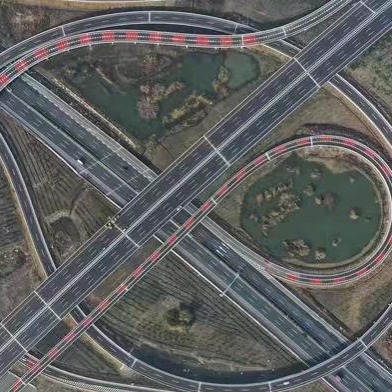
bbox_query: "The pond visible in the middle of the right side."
[243,157,381,263]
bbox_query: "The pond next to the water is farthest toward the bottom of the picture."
[141,349,296,384]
